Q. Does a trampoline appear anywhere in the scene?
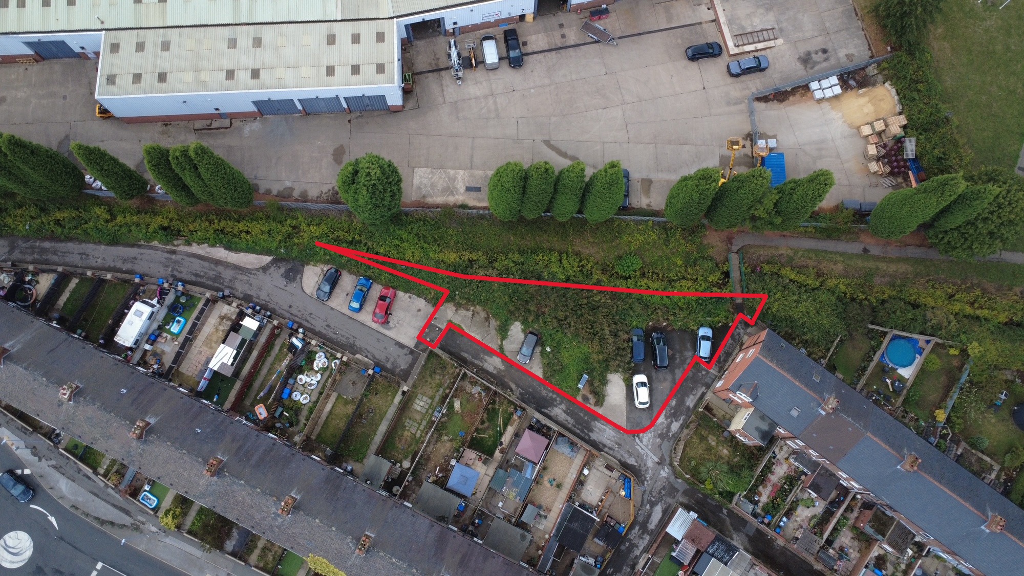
Yes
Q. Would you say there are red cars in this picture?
Yes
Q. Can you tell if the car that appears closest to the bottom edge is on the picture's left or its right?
left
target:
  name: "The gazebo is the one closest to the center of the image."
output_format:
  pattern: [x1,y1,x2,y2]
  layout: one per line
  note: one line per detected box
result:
[515,429,549,464]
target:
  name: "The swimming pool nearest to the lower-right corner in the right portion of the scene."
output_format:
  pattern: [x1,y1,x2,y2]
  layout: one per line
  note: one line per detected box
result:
[879,335,917,370]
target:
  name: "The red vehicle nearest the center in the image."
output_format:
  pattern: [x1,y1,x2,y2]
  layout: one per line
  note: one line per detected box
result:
[371,286,396,325]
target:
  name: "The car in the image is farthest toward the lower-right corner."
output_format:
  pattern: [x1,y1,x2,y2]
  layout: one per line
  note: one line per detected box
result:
[696,326,715,361]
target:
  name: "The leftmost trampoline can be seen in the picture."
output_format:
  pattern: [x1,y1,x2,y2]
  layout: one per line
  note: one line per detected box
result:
[7,282,40,307]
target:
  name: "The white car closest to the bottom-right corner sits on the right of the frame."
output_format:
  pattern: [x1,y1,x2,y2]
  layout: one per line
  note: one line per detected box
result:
[632,374,651,408]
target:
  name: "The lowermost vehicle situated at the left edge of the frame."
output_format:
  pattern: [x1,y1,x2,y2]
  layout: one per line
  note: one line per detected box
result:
[0,467,35,503]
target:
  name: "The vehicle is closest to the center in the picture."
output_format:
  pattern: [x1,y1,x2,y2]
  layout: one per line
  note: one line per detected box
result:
[516,329,540,365]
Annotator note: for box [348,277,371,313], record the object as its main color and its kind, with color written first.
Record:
blue car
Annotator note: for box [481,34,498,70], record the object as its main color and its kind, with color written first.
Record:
white car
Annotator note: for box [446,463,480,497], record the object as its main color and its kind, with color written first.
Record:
blue gazebo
